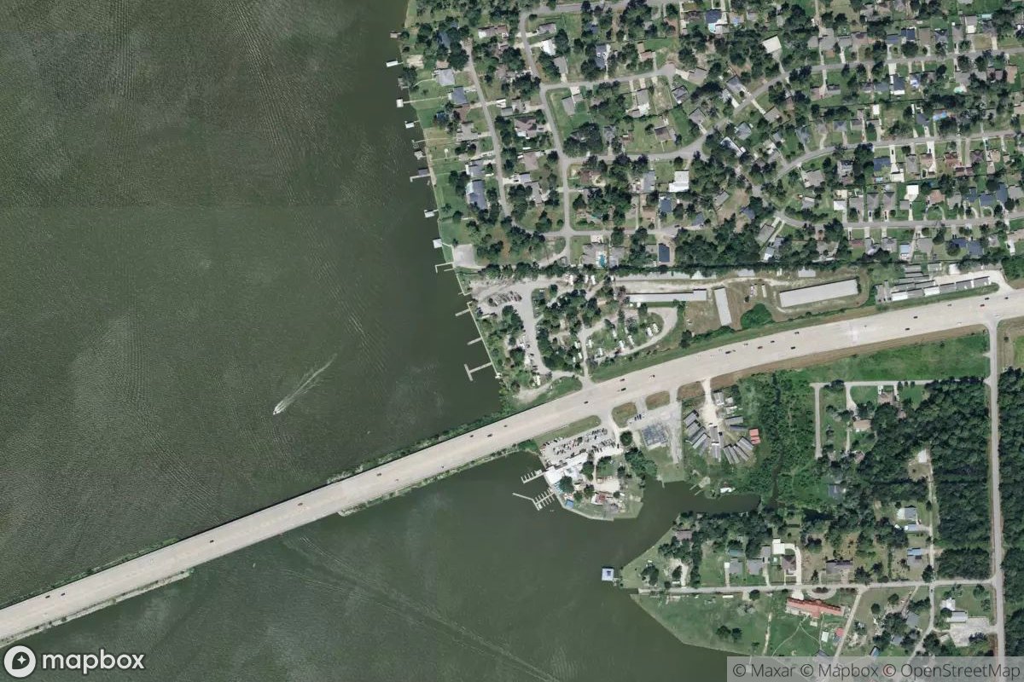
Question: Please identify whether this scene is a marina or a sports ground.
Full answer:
This image shows a marina.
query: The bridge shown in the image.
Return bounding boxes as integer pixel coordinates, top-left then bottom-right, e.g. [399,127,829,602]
[0,420,510,639]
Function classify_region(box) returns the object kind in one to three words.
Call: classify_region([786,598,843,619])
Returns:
building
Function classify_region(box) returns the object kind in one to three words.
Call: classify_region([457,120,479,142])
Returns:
house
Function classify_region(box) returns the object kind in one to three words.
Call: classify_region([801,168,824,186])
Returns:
house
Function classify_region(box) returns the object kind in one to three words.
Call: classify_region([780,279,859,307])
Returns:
building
